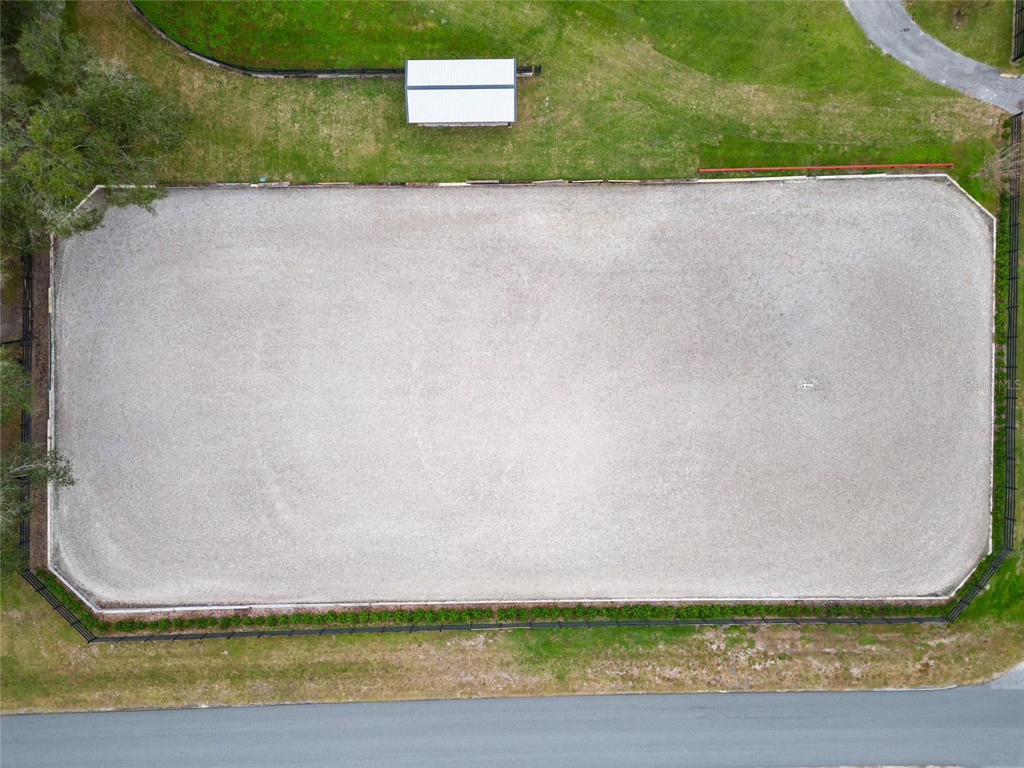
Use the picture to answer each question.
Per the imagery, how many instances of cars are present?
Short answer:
0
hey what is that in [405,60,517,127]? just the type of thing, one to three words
shed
